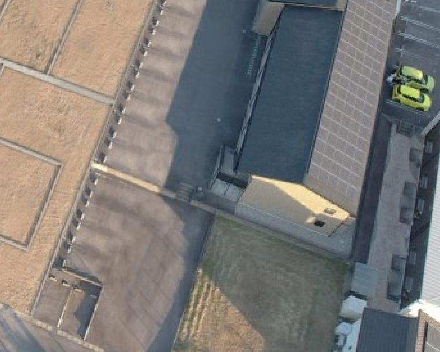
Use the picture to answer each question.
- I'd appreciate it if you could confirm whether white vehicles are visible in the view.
No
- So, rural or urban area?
urban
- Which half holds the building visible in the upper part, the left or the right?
right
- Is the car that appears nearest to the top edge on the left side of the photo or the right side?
right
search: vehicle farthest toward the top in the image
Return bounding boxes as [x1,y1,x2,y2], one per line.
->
[393,66,436,94]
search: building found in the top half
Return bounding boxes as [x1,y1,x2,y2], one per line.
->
[211,0,410,229]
